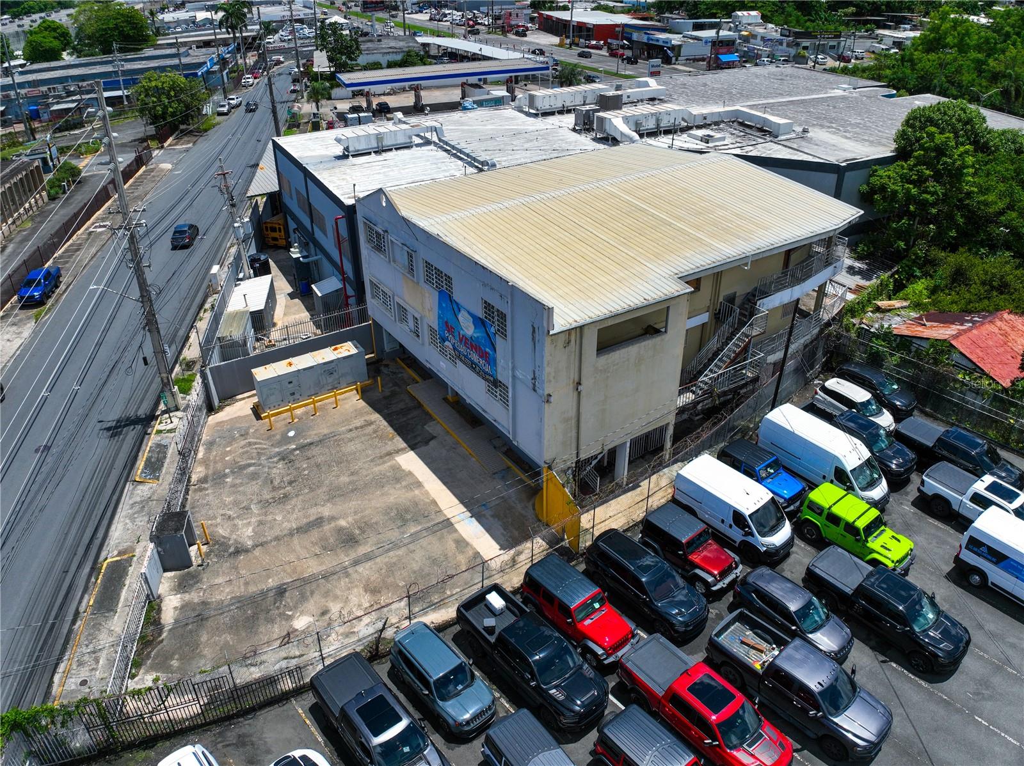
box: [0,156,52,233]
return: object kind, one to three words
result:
building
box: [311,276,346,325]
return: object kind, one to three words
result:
shed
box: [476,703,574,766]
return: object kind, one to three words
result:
vehicle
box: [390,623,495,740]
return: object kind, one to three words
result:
car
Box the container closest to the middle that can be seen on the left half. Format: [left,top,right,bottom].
[249,339,370,415]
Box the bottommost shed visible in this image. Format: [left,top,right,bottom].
[148,508,197,570]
